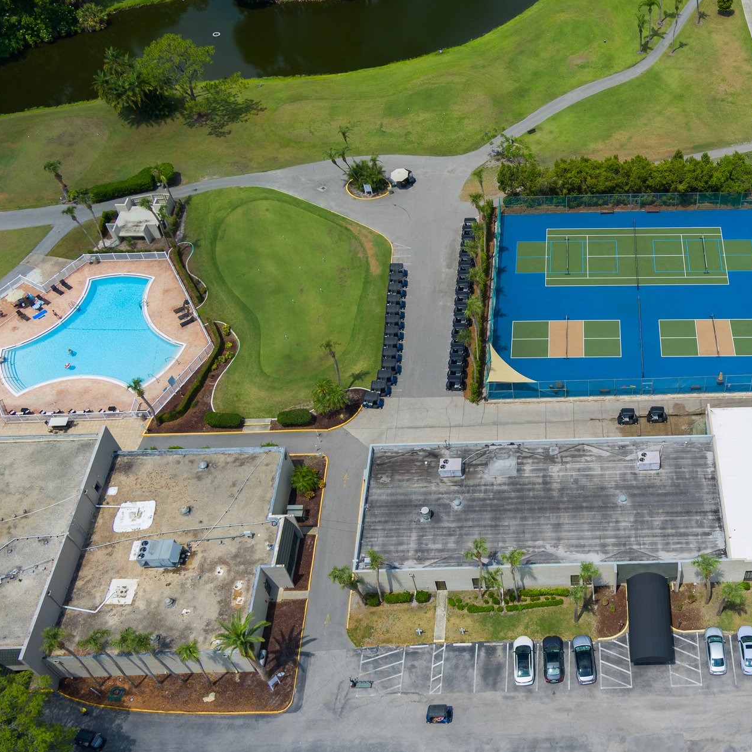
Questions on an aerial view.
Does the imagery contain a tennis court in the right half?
Yes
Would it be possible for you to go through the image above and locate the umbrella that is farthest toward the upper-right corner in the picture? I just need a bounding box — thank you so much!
[389,166,409,179]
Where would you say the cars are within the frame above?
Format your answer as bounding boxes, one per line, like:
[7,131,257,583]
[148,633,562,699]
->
[703,628,727,676]
[541,636,565,684]
[511,636,535,686]
[738,627,752,676]
[572,635,597,686]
